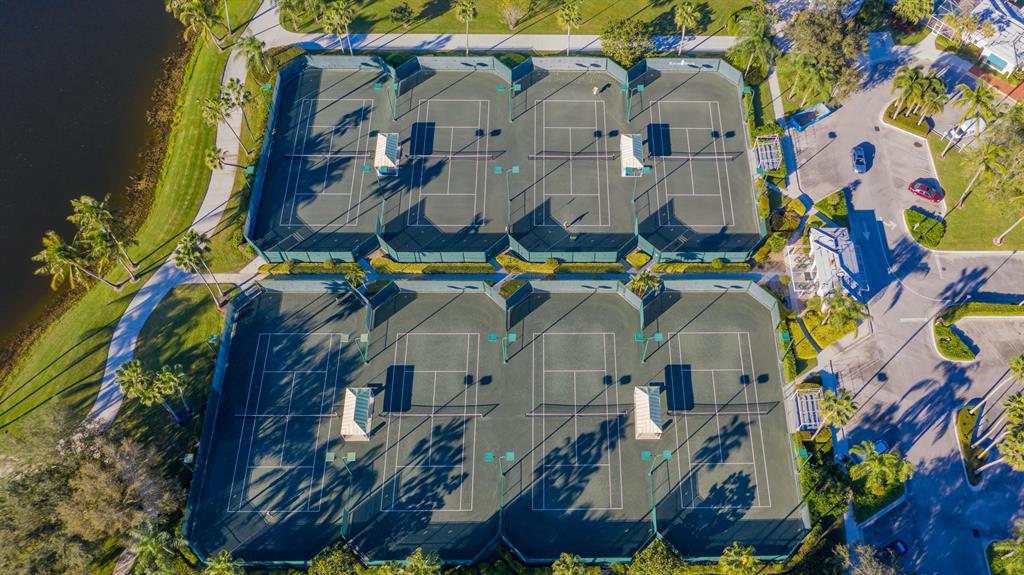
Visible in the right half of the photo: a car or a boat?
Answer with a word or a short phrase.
car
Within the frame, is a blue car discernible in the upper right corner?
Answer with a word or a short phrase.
Yes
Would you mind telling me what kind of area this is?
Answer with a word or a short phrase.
sports ground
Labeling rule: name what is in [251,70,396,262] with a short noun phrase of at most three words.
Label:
tennis court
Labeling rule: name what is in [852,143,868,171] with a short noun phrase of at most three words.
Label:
car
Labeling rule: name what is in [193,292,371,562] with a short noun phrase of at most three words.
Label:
tennis court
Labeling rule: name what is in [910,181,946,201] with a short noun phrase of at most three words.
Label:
car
